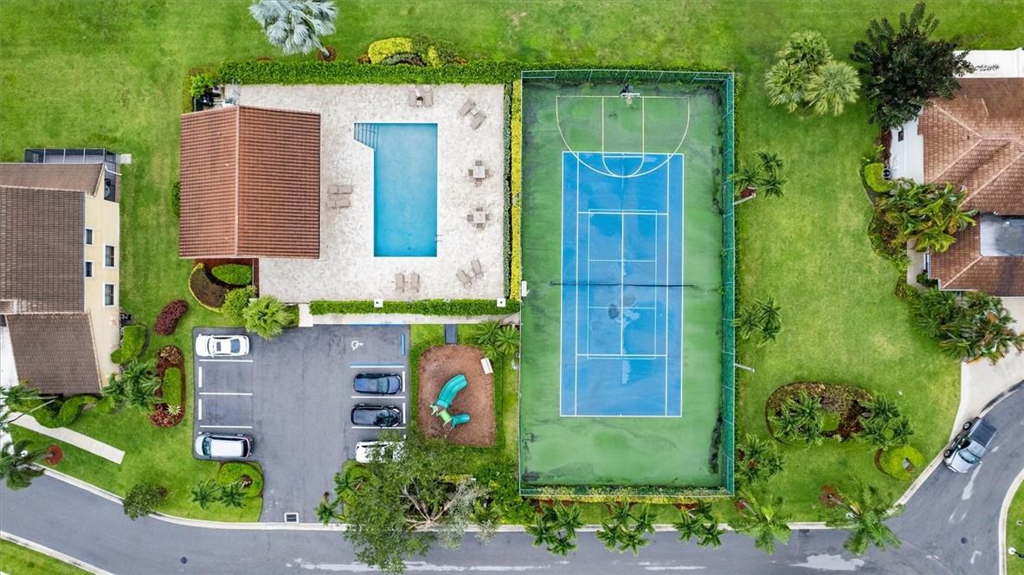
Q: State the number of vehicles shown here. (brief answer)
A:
6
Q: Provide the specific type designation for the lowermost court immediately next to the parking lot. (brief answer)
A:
tennis court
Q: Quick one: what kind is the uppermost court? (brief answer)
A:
basketball court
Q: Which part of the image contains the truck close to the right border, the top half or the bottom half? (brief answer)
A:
bottom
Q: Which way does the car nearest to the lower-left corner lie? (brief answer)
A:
from side to side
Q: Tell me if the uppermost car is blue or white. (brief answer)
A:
white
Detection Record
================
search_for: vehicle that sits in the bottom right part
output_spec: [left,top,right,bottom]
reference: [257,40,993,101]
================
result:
[945,417,1000,475]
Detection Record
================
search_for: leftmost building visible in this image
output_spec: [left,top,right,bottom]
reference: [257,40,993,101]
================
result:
[0,162,121,394]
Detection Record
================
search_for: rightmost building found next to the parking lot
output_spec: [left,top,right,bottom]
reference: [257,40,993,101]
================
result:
[178,105,321,259]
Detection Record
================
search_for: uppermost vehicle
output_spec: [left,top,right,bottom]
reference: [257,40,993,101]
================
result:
[195,333,252,359]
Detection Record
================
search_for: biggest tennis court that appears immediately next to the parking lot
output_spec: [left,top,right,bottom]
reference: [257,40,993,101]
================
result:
[520,151,723,486]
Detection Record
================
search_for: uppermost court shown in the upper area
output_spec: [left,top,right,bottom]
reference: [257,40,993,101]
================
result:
[521,82,723,177]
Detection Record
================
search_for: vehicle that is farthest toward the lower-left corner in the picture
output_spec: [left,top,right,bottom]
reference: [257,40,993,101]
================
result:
[196,433,255,460]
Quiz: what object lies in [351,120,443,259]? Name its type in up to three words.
swimming pool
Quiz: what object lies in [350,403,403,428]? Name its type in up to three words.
car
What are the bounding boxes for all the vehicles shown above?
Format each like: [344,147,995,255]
[354,438,409,462]
[195,333,252,359]
[350,403,403,428]
[354,373,404,398]
[196,433,255,460]
[945,417,1000,475]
